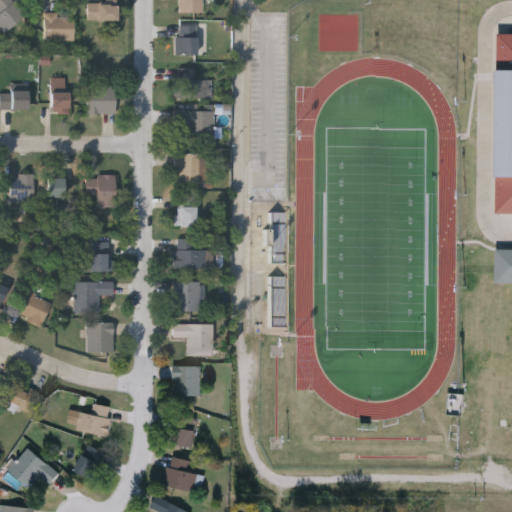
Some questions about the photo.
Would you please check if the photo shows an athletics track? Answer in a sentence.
Yes, there is an athletics track in the image.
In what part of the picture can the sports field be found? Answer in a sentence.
The sports field is in the right part of the image.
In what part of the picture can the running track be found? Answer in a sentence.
The running track is in the right part of the image.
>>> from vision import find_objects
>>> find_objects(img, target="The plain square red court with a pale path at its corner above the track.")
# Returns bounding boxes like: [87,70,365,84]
[318,14,359,52]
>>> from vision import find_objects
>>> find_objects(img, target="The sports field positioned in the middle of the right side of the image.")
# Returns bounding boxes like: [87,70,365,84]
[314,76,438,401]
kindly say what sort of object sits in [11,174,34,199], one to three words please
house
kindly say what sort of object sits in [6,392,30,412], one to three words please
house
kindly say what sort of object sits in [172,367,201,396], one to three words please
building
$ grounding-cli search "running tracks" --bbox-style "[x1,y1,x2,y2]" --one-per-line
[296,58,456,420]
